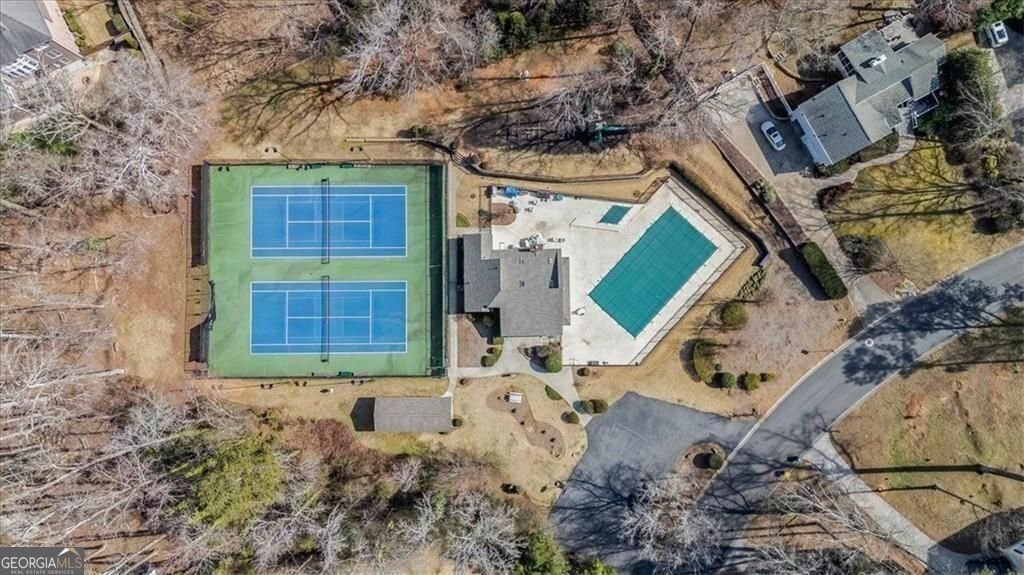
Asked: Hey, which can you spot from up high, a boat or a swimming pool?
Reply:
swimming pool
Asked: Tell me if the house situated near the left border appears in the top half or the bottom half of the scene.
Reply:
top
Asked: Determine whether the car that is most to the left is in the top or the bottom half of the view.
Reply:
top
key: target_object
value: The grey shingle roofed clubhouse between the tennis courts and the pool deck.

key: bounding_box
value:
[463,235,570,337]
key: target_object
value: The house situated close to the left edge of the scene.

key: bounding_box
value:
[0,0,84,109]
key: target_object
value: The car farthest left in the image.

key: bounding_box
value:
[762,119,788,151]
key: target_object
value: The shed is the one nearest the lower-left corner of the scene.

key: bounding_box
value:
[373,396,453,432]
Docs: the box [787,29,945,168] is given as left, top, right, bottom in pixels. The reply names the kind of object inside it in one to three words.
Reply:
house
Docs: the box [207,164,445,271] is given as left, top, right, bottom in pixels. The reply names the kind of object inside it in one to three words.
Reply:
tennis court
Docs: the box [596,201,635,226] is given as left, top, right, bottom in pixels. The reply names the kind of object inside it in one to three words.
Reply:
swimming pool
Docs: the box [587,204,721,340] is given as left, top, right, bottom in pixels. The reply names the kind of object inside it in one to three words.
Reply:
swimming pool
